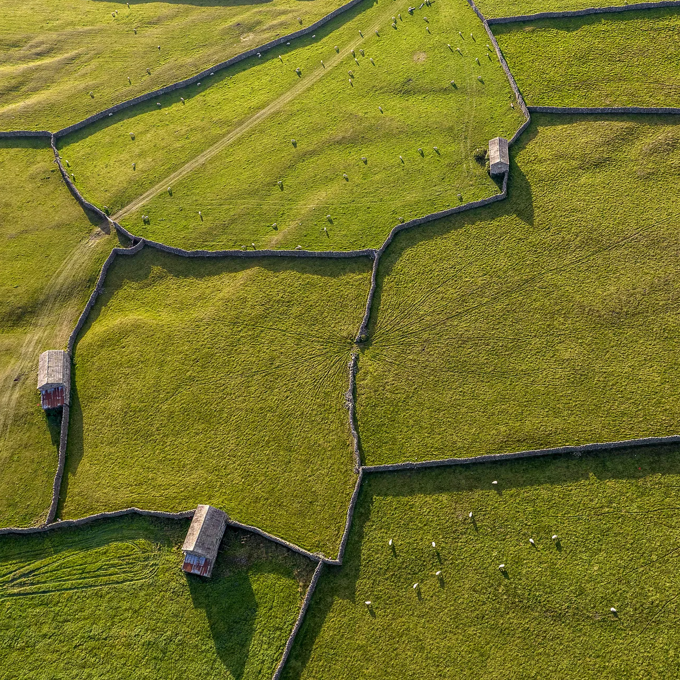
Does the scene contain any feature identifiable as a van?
No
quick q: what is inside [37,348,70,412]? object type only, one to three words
barn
